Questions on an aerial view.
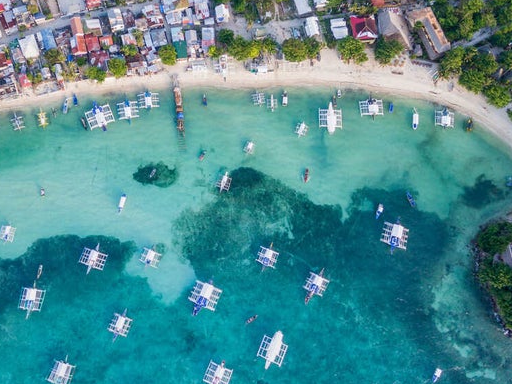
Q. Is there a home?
Yes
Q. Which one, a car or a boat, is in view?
boat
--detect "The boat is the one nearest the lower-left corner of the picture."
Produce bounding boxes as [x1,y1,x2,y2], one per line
[47,356,77,384]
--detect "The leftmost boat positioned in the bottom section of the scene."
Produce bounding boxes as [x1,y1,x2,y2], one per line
[0,223,16,242]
